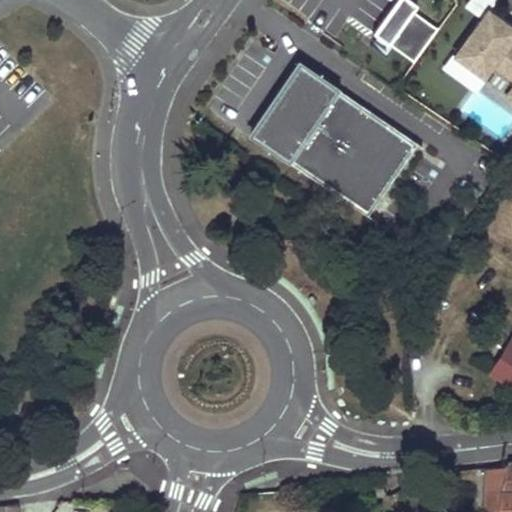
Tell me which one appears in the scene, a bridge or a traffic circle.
traffic circle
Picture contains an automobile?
Yes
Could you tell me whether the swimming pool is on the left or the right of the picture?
right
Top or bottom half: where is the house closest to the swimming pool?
top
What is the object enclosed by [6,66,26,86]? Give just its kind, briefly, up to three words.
car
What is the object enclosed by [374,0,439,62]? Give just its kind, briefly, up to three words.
house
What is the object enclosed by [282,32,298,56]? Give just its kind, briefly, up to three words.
car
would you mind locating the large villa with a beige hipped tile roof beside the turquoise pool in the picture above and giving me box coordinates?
[444,10,512,96]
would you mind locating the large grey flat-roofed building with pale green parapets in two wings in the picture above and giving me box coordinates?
[250,63,421,216]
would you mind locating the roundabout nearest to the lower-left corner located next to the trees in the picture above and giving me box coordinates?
[117,274,316,473]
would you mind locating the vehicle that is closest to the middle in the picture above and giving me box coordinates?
[220,104,240,121]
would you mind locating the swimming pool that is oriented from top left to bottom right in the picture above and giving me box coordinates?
[458,90,512,139]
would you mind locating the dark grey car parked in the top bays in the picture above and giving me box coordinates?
[312,6,328,28]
